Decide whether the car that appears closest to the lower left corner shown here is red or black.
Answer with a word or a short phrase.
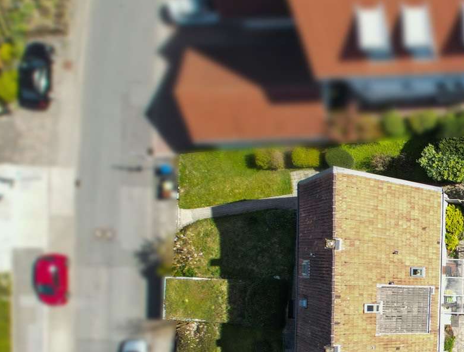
red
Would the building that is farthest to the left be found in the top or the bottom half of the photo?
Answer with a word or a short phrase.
bottom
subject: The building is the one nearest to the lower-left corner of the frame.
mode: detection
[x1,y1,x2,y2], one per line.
[163,278,234,323]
